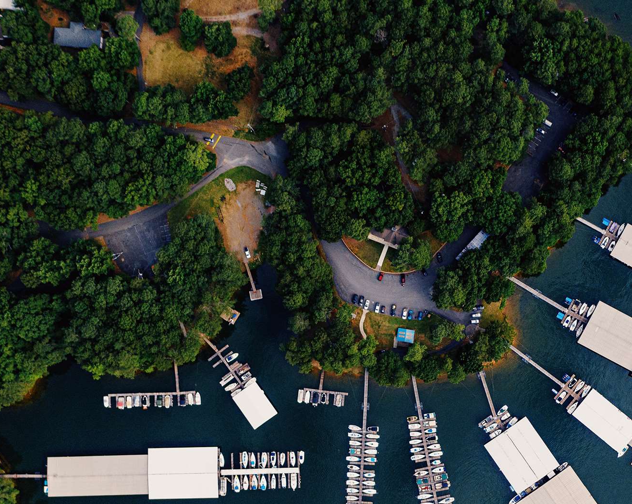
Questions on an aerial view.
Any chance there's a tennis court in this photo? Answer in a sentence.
No, no tennis court is visible in the scene.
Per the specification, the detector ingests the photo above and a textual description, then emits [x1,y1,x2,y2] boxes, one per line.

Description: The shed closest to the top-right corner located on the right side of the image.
[457,230,489,264]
